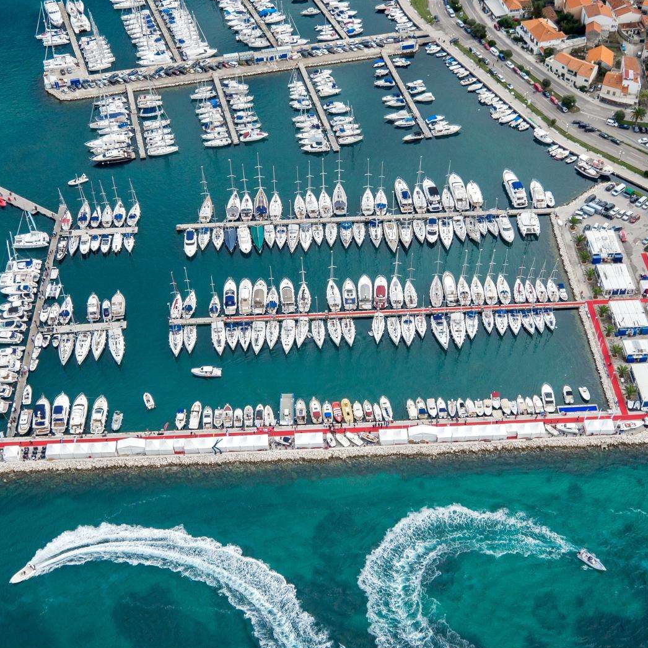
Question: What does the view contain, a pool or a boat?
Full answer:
This aerial view contains a boat.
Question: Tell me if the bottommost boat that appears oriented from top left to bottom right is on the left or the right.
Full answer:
The bottommost boat that appears oriented from top left to bottom right sits on the right side.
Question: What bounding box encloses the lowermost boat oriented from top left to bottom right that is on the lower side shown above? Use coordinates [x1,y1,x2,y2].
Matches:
[577,550,605,570]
